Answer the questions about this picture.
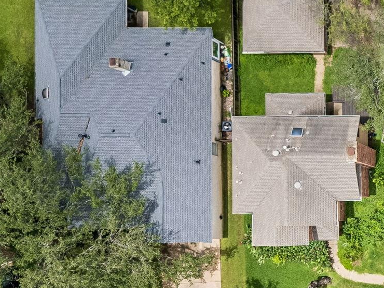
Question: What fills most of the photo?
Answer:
buildings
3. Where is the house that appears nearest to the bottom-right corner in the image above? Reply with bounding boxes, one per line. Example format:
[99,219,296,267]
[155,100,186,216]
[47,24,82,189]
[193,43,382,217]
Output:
[231,93,379,246]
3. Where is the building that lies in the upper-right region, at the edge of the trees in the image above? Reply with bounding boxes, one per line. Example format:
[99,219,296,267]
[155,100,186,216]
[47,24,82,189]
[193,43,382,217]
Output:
[242,0,329,55]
